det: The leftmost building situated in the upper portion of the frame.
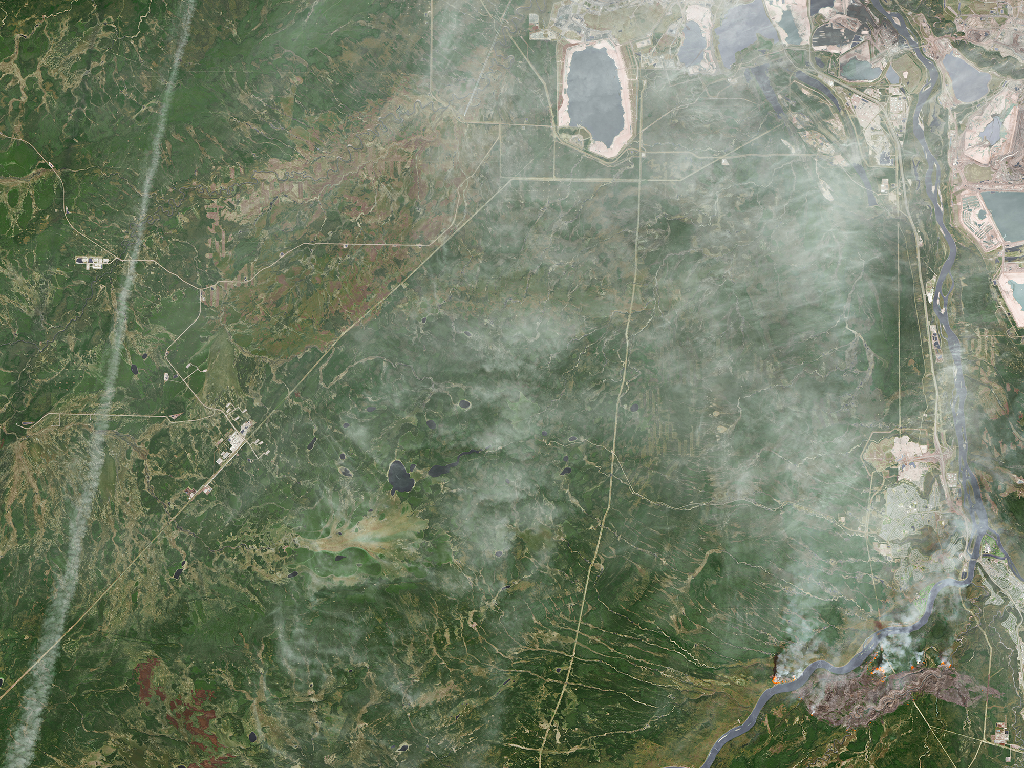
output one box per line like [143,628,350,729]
[812,6,878,46]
